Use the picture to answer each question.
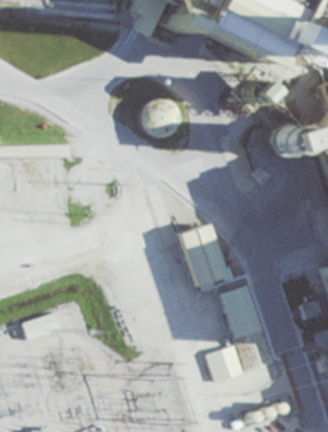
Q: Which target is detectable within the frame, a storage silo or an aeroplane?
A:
storage silo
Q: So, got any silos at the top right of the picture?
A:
Yes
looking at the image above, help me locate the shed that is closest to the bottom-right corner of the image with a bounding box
[203,346,244,382]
